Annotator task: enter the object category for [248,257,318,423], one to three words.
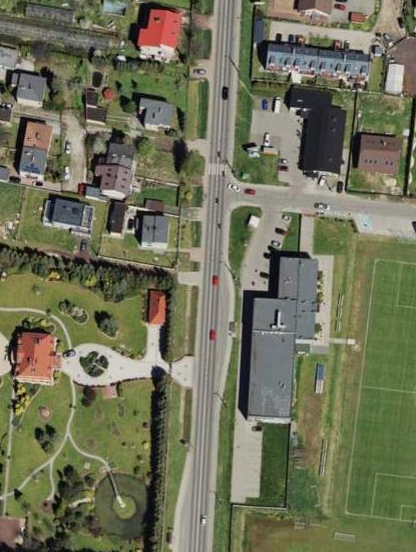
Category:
building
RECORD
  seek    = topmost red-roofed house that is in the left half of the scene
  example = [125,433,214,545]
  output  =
[137,8,181,51]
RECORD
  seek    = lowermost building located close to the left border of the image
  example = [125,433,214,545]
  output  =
[14,333,59,383]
